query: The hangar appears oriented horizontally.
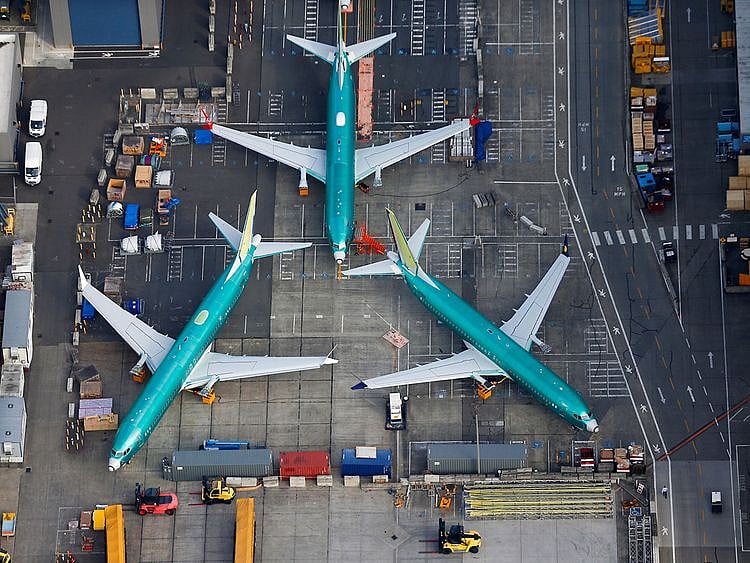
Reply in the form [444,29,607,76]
[51,0,159,49]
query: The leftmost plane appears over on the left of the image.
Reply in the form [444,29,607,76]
[77,191,338,470]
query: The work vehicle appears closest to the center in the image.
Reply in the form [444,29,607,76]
[385,397,406,432]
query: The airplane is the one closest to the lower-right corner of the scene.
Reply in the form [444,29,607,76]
[344,209,599,432]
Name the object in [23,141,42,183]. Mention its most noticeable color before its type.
white vehicle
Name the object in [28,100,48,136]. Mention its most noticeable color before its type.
white vehicle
